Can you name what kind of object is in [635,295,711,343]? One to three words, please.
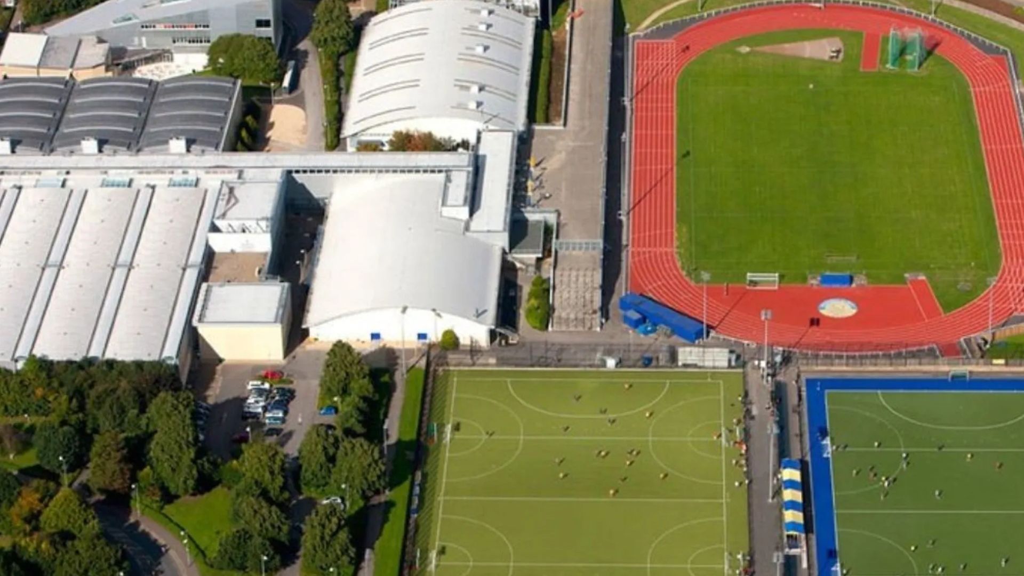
building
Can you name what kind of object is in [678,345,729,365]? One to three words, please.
building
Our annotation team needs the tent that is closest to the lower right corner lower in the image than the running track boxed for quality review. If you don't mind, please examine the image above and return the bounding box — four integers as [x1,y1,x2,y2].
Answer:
[781,458,805,544]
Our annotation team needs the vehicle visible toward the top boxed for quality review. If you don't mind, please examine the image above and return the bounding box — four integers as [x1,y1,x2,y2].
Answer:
[279,63,294,92]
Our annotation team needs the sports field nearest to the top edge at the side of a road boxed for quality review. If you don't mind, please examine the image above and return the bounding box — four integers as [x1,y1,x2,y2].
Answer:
[676,31,1002,312]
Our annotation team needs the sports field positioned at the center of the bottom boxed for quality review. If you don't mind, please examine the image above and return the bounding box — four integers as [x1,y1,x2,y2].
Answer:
[405,372,750,576]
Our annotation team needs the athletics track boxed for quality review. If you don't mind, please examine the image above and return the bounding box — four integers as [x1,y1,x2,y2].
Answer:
[618,0,1024,357]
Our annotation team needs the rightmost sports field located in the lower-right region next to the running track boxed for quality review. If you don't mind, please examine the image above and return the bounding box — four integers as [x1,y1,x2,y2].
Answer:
[806,379,1024,576]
